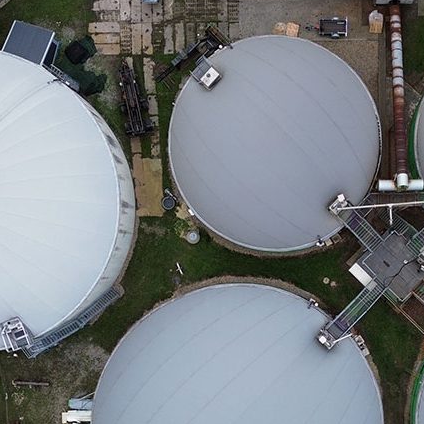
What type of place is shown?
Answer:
industrial area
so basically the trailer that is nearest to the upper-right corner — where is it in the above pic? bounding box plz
[305,16,347,42]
